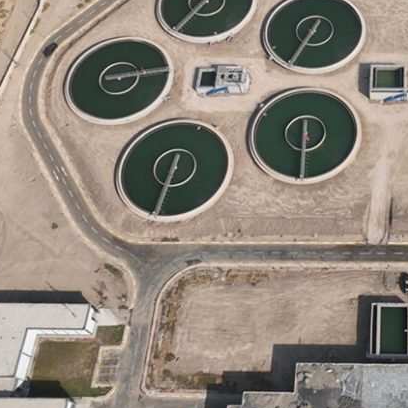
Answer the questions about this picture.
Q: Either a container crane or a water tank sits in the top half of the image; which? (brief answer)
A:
water tank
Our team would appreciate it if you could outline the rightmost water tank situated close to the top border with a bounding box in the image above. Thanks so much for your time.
[265,0,365,75]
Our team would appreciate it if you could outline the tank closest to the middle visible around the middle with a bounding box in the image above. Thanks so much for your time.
[118,118,233,220]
